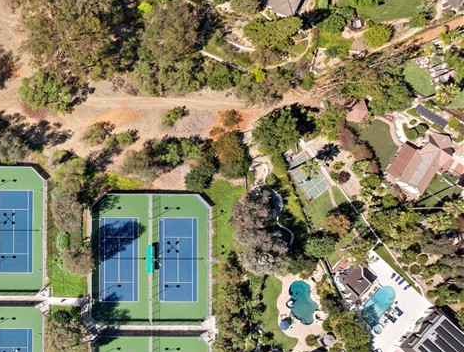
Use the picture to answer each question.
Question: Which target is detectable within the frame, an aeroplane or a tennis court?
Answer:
tennis court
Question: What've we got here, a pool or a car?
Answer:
pool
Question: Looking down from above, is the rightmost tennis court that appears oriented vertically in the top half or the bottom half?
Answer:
bottom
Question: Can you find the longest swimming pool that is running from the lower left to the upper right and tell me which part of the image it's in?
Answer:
bottom right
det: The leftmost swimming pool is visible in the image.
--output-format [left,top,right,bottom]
[287,278,320,325]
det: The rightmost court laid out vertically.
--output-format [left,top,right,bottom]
[149,195,208,324]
